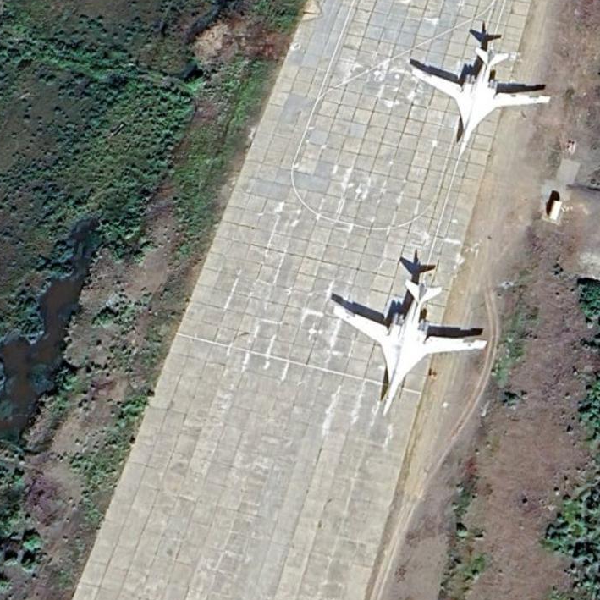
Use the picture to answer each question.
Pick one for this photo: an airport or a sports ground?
airport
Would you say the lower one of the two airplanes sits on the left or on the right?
right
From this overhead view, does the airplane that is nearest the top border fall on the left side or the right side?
right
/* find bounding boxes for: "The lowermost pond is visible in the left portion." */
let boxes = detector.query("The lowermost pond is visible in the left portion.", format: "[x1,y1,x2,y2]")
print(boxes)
[0,216,99,442]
